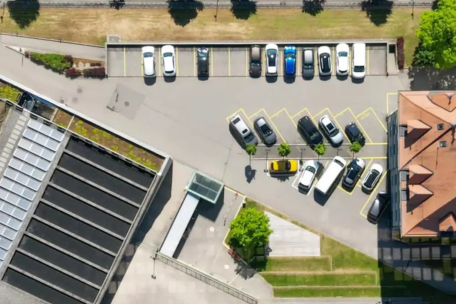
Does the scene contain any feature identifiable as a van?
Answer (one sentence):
Yes, there is a van in the image.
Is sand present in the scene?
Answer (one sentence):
No, the picture contains no sand.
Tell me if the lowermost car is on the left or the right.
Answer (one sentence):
The lowermost car sits on the right side.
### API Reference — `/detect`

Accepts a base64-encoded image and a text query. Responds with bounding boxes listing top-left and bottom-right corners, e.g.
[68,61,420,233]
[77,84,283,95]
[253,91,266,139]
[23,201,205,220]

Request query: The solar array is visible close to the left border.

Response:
[0,119,64,264]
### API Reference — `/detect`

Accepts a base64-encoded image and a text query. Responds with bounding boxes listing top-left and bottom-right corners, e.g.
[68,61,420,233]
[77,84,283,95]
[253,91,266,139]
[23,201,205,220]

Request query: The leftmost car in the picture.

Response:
[141,45,156,77]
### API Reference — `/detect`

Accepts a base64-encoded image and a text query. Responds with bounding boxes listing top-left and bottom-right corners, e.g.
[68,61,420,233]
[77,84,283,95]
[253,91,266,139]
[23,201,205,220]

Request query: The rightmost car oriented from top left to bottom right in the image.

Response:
[345,119,366,146]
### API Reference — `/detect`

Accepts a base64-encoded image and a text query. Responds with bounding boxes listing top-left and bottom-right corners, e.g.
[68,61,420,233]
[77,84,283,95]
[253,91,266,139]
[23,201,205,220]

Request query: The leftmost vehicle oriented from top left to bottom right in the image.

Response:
[229,111,257,147]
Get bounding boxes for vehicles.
[345,119,366,146]
[195,46,210,76]
[319,115,343,146]
[351,42,367,78]
[254,115,277,147]
[318,47,332,76]
[367,192,390,224]
[229,111,257,147]
[283,46,298,75]
[161,44,176,76]
[264,44,279,75]
[361,162,382,192]
[297,113,324,147]
[335,44,350,76]
[248,47,263,76]
[316,157,344,196]
[269,158,297,172]
[343,157,365,188]
[298,162,318,192]
[301,48,315,77]
[141,45,156,77]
